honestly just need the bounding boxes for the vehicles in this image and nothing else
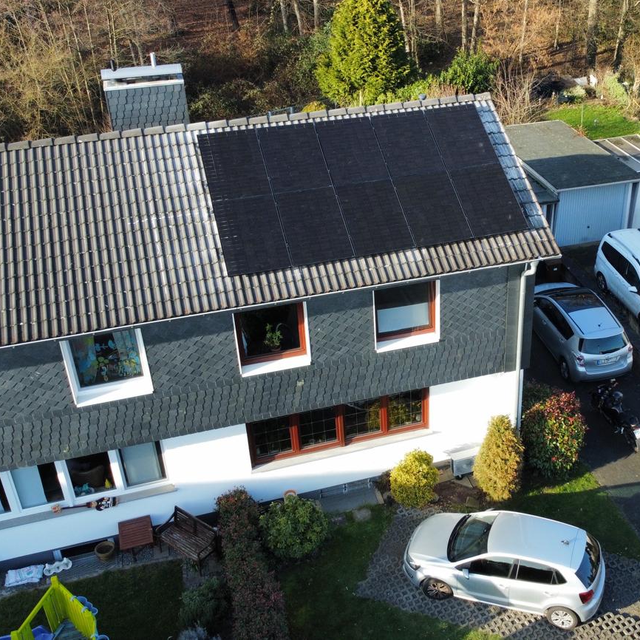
[594,229,640,333]
[589,375,640,448]
[403,503,610,630]
[533,282,633,380]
